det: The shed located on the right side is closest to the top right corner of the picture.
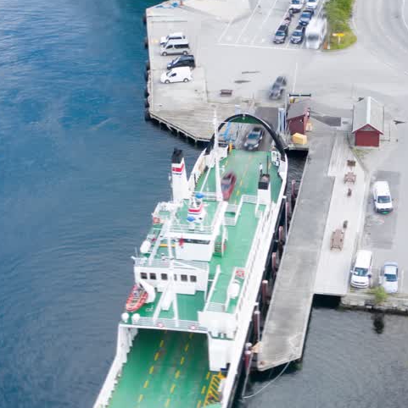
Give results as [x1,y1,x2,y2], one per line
[352,101,384,146]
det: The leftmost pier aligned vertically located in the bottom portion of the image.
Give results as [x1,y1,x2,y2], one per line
[252,134,338,380]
